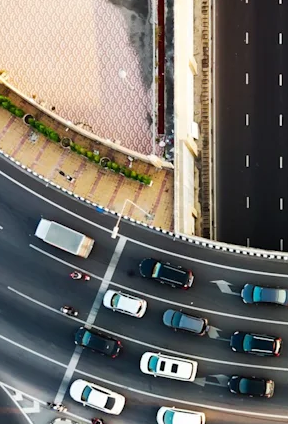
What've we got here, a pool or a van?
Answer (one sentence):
The image shows a van.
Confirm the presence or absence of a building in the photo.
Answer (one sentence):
No, there's no building here.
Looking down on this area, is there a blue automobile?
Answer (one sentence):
Yes, looking at the shot, I can spot a blue automobile.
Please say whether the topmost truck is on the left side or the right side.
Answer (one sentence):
The topmost truck sits on the left side.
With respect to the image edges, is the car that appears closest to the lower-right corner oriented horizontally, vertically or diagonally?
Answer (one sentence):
From this overhead view, the car that appears closest to the lower-right corner appears to run horizontally.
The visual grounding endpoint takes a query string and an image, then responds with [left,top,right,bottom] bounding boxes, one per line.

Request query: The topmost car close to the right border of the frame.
[241,282,288,308]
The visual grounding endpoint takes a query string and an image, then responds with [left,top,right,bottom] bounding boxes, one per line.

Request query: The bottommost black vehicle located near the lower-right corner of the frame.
[229,373,274,398]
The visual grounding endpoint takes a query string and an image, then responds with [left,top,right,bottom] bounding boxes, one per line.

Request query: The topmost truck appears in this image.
[33,216,98,262]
